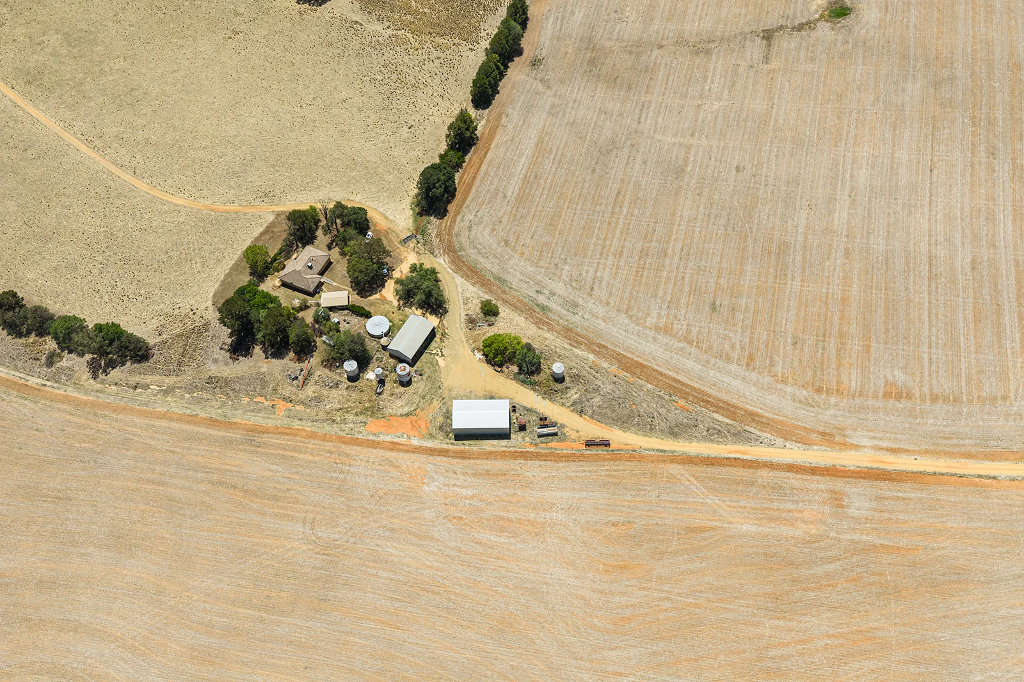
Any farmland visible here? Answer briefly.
Yes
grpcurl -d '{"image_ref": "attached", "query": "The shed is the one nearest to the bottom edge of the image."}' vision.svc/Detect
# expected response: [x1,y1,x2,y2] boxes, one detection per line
[452,399,509,436]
